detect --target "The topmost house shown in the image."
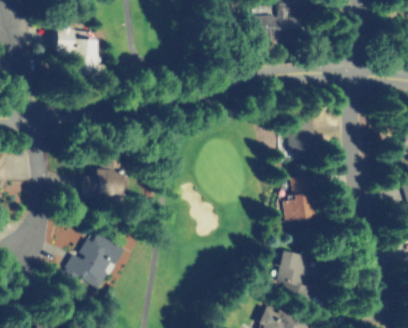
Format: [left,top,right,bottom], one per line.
[251,1,300,35]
